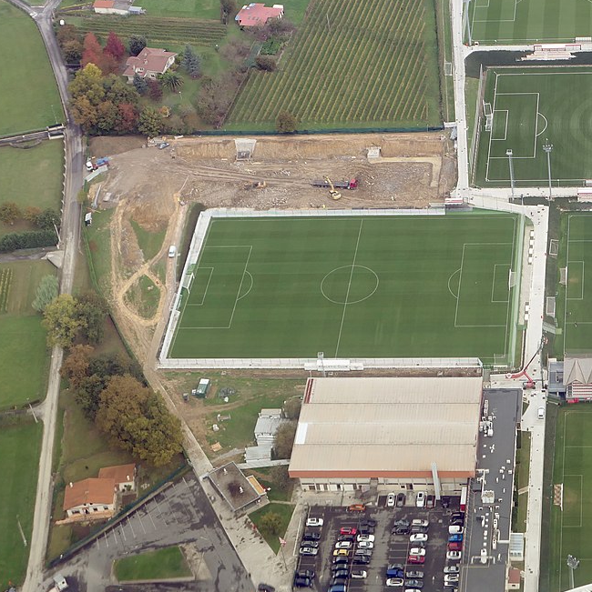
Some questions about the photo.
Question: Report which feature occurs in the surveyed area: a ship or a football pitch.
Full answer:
Of the two, only a football pitch appears.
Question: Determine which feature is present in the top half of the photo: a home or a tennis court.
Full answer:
The one visible in the top half of the photo is a home.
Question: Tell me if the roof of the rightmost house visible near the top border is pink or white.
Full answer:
In this view, the roof of the rightmost house visible near the top border is pink.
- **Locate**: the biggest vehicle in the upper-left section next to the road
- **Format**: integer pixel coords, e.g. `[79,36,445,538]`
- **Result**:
[88,151,112,167]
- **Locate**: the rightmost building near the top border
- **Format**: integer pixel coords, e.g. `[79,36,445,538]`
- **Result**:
[237,3,283,33]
